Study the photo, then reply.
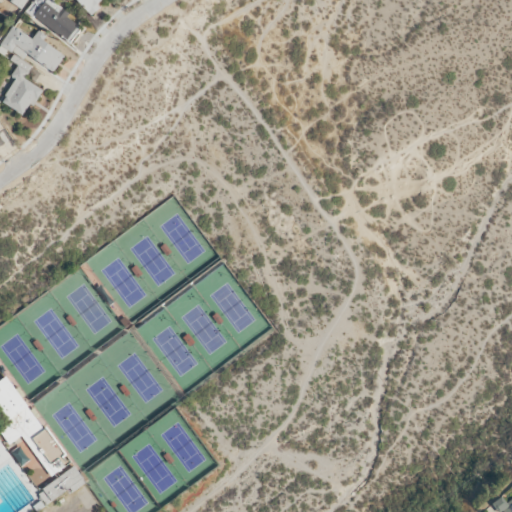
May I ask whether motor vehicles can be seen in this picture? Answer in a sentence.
No, the picture doesn't show any motor vehicle.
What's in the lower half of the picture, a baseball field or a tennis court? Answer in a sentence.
The one visible in the lower half of the picture is a tennis court.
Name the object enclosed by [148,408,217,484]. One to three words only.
tennis court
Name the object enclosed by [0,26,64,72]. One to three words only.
house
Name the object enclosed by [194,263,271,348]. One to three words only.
tennis court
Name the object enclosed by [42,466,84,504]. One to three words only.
building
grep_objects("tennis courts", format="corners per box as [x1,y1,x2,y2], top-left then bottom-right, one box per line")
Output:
[64,353,147,444]
[116,220,189,300]
[98,329,179,420]
[82,451,159,512]
[0,316,60,399]
[50,268,123,348]
[33,378,114,468]
[194,263,271,348]
[144,198,218,278]
[86,242,160,322]
[148,408,217,484]
[164,286,241,370]
[17,290,94,374]
[118,429,188,506]
[136,307,212,391]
